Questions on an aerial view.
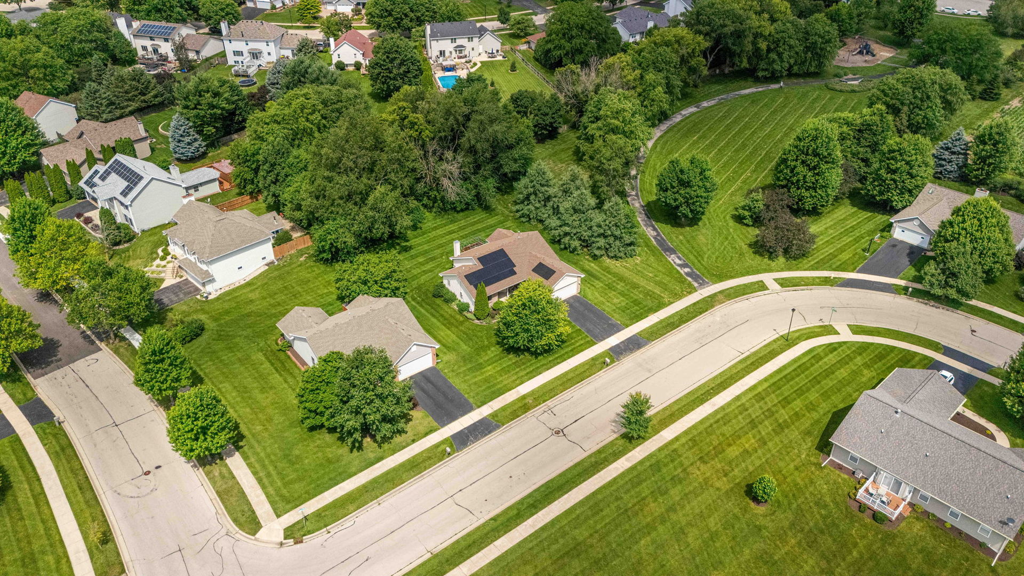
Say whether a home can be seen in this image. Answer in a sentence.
Yes, I can see a home in this picture.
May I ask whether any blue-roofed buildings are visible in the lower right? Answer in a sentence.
No, I see no blue-roofed building in the lower right.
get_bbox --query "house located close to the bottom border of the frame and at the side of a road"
[823,367,1024,564]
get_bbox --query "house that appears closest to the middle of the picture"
[440,228,586,313]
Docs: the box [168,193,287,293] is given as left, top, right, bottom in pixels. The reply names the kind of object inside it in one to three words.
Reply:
house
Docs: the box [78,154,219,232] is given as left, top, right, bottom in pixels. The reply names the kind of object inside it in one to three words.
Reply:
house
